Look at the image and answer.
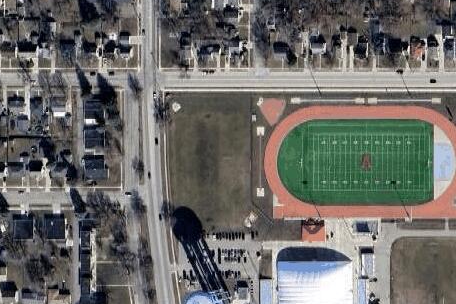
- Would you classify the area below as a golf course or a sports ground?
sports ground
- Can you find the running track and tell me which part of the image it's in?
right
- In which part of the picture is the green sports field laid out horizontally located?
right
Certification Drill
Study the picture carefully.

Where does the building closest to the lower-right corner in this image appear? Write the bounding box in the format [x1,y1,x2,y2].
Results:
[360,253,373,278]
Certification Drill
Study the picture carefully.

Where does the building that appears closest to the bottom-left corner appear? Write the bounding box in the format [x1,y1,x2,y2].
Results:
[0,285,19,303]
